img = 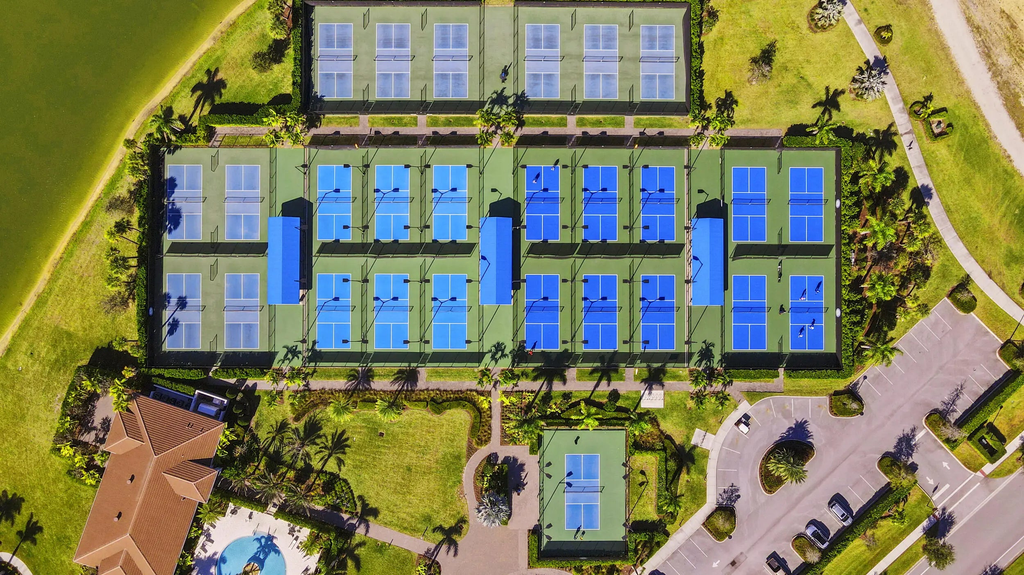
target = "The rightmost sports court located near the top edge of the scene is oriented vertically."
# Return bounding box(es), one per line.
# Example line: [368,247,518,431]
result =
[641,25,675,99]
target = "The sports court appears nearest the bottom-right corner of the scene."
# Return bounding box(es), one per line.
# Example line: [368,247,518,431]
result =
[790,275,824,350]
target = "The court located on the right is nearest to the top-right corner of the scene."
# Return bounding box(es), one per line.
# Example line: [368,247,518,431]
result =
[790,167,823,242]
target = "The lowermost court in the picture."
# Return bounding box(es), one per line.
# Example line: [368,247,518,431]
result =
[565,454,600,530]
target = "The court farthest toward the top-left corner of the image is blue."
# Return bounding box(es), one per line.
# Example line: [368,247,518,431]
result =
[167,165,203,239]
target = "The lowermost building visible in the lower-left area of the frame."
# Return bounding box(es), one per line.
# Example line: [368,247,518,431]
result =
[73,392,227,575]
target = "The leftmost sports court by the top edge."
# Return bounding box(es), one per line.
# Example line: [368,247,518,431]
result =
[318,23,353,98]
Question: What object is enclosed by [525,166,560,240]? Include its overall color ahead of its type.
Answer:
blue sports court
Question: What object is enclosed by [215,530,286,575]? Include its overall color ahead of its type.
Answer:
blue swimming pool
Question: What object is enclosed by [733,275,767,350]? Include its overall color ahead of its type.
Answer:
blue sports court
